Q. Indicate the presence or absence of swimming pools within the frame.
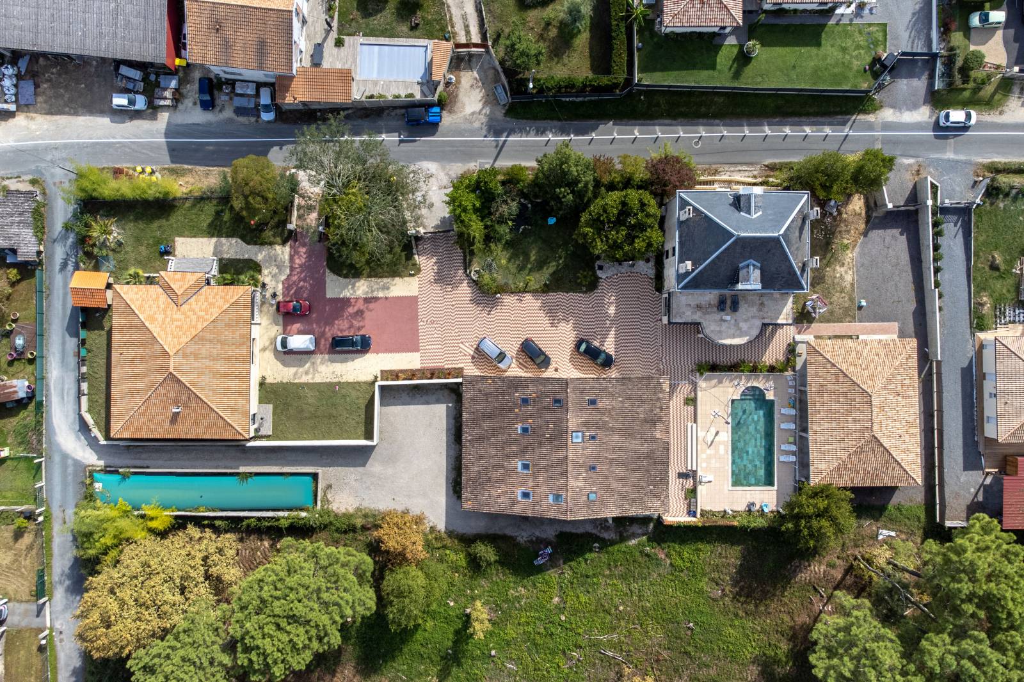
Yes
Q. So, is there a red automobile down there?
Yes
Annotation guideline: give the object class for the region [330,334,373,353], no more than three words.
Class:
car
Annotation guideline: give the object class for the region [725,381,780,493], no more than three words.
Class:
swimming pool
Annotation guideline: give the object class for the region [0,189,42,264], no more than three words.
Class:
shed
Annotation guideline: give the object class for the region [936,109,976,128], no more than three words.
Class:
car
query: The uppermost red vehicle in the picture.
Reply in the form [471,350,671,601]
[276,298,312,317]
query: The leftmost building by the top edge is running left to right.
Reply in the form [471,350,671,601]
[0,0,182,73]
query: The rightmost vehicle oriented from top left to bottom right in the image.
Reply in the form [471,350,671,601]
[574,337,614,369]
